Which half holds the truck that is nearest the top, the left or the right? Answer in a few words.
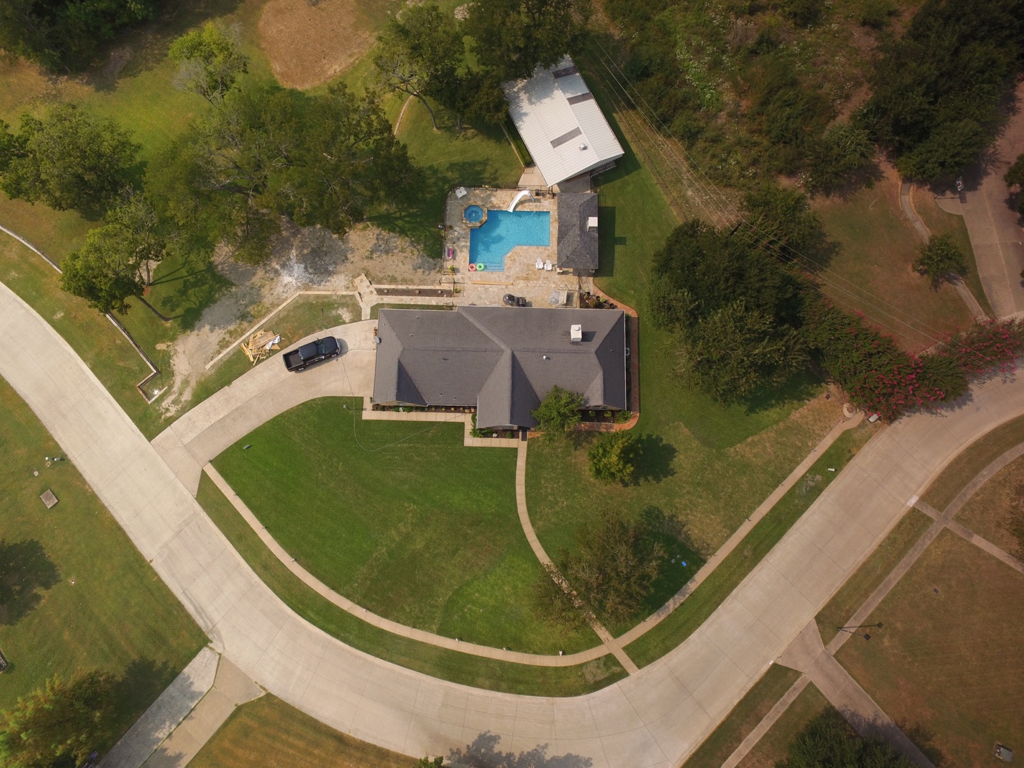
left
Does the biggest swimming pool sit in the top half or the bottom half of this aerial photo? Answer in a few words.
top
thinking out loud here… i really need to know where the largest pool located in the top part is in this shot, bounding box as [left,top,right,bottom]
[466,207,553,274]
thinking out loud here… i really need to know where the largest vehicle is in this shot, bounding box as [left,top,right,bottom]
[282,340,340,372]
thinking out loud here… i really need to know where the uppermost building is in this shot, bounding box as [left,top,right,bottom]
[494,53,625,193]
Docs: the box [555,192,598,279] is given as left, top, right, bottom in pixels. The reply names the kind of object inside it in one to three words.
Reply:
building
